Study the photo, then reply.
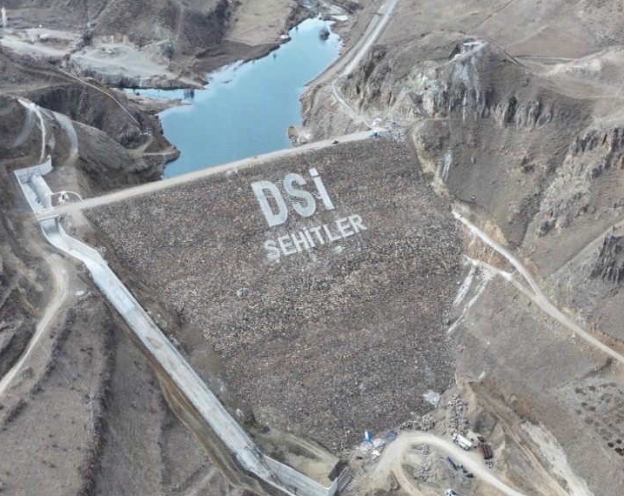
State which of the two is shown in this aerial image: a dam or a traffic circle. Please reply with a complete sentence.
Of the two, only a dam appears.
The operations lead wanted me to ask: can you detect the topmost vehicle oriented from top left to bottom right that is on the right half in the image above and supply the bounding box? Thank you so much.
[450,432,473,449]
